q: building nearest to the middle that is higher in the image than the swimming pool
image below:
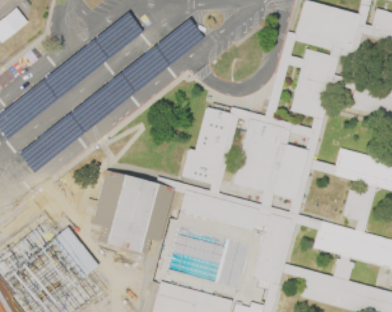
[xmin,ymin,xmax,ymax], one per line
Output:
[184,106,241,188]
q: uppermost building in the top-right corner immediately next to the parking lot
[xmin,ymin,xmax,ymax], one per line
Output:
[296,0,360,54]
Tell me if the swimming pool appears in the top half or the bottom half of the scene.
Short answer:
bottom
